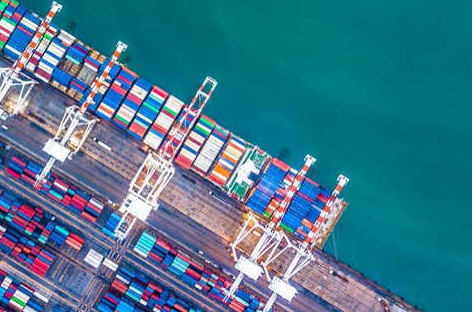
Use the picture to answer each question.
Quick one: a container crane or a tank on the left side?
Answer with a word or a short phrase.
container crane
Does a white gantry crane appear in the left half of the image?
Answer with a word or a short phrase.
Yes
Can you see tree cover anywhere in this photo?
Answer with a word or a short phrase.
No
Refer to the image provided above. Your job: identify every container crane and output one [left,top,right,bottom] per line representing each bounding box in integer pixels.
[262,177,352,312]
[224,155,316,298]
[112,74,220,240]
[0,3,61,123]
[34,42,127,185]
